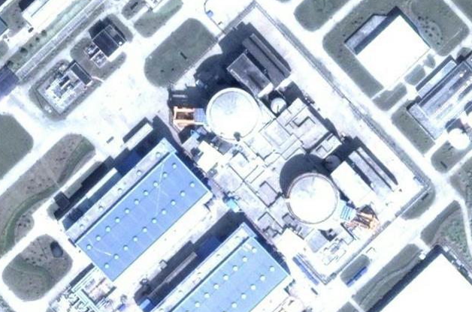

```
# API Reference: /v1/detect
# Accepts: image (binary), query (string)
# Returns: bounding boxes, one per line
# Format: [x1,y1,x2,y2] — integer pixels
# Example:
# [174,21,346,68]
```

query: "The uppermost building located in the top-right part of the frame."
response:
[344,15,387,50]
